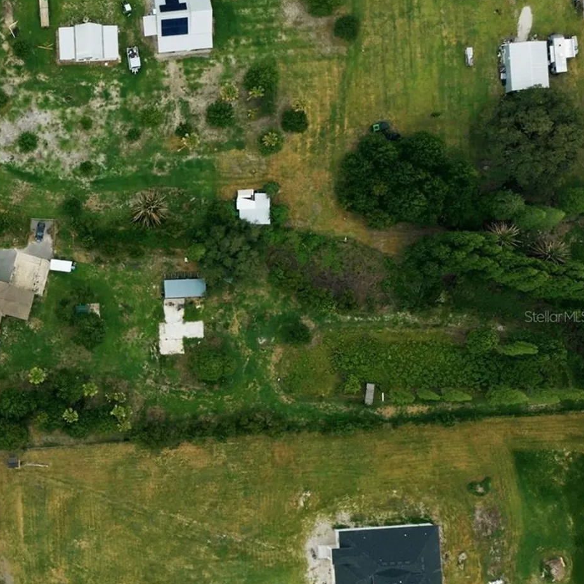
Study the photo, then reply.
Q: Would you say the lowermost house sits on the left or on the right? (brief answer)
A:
right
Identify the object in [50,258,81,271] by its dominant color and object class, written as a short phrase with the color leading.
white vehicle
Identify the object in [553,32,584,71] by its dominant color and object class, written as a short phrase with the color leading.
white camper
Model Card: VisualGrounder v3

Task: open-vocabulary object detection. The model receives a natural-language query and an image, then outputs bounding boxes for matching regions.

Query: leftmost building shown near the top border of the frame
[58,25,119,65]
